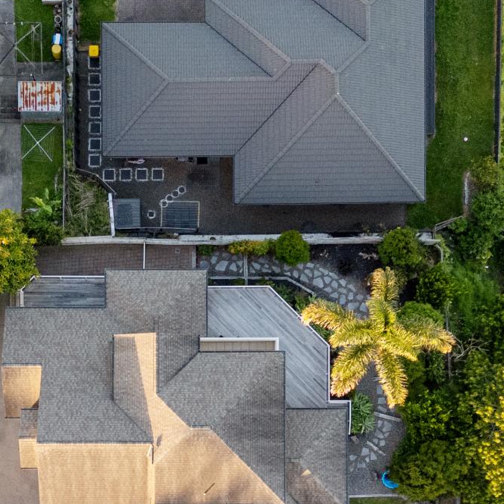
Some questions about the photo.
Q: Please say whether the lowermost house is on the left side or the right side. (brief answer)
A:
left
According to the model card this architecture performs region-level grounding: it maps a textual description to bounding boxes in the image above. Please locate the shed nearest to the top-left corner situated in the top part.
[18,82,65,123]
